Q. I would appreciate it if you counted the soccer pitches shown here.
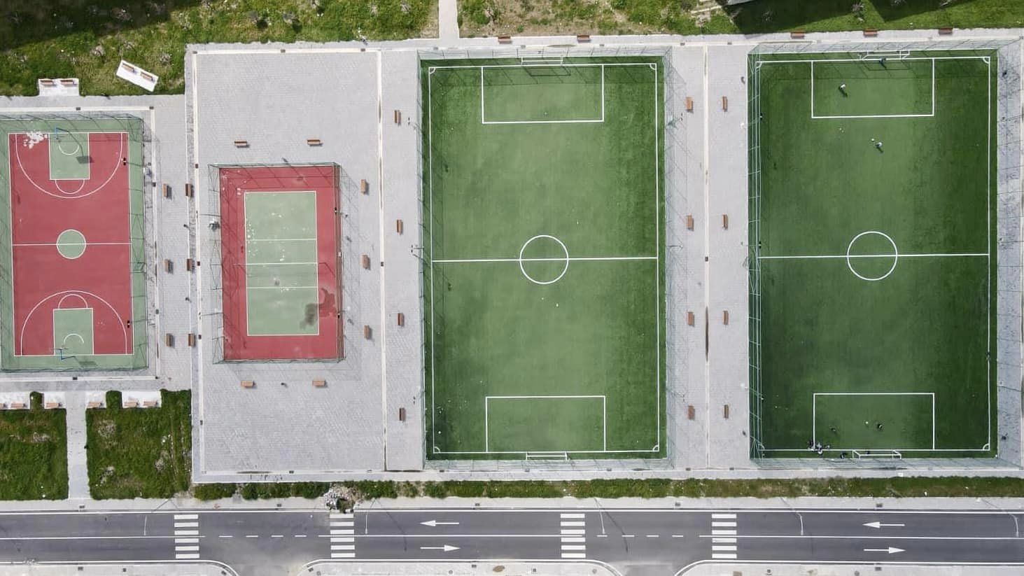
two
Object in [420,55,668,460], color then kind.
green soccer field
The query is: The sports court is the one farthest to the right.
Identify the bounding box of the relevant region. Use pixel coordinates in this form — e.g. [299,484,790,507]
[219,166,344,361]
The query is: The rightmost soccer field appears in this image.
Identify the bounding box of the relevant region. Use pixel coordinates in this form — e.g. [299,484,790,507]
[748,48,998,460]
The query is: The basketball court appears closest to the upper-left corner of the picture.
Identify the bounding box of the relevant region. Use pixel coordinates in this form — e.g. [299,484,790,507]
[0,118,148,370]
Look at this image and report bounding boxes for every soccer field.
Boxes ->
[420,55,668,460]
[748,48,998,460]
